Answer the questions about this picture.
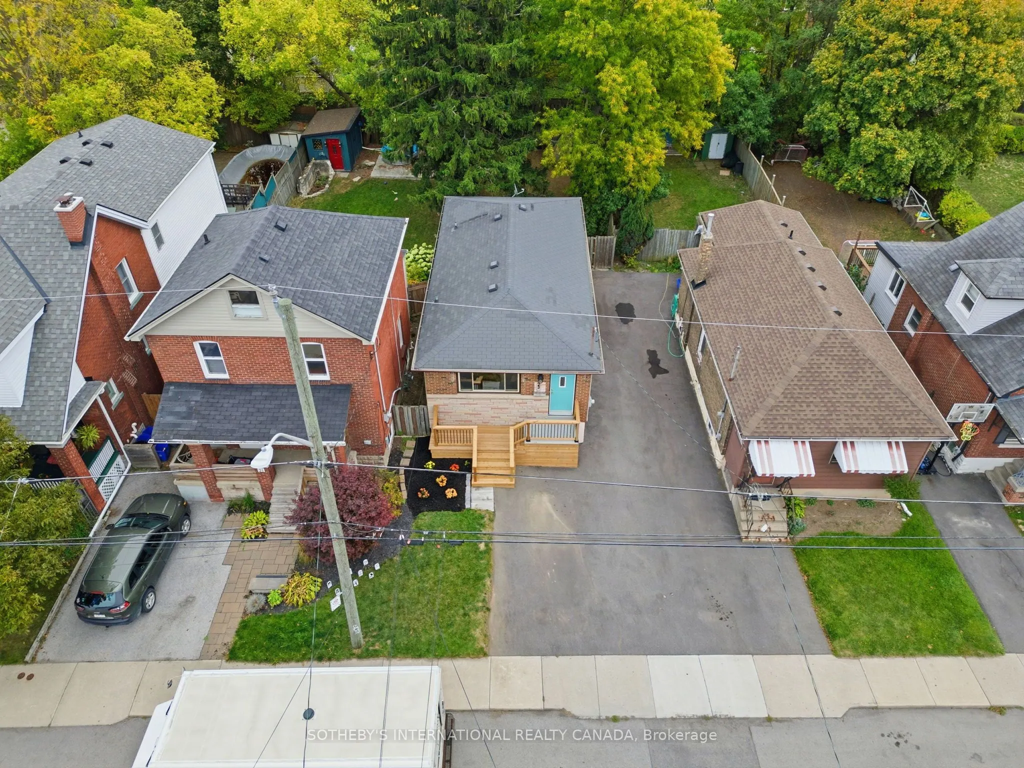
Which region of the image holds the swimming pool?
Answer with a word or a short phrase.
top left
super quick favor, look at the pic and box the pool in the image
[210,142,300,205]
